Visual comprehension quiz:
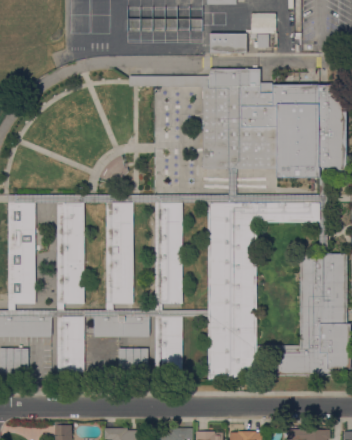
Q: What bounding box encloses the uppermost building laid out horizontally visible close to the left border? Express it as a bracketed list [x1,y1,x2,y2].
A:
[0,317,52,338]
